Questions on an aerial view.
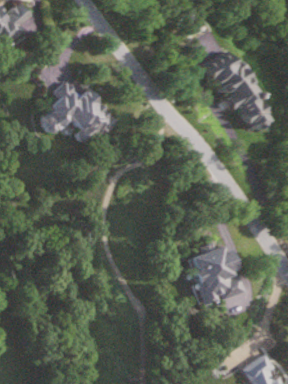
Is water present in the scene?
No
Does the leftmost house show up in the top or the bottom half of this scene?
top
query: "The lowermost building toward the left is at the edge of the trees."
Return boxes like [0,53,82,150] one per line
[40,80,110,143]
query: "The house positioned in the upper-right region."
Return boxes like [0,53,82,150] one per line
[204,50,276,133]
